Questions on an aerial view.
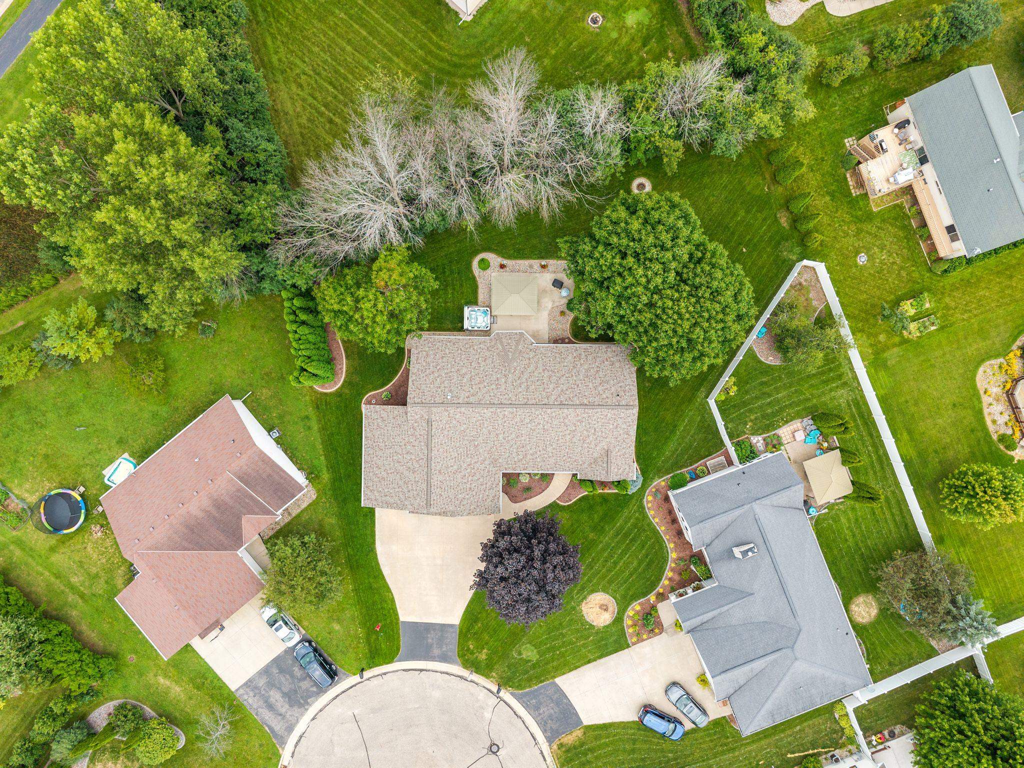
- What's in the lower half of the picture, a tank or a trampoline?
trampoline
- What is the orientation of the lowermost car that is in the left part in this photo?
at an angle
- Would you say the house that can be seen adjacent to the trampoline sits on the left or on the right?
left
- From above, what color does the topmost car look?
white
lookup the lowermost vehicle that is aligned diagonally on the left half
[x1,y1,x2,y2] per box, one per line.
[292,642,339,697]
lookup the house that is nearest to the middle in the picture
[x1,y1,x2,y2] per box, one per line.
[361,329,638,517]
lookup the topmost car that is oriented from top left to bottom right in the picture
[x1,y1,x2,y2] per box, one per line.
[260,602,303,652]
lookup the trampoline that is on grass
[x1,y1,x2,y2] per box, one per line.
[30,487,97,537]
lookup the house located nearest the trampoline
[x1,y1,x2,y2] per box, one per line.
[98,393,308,661]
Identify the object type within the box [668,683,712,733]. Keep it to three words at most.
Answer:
car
